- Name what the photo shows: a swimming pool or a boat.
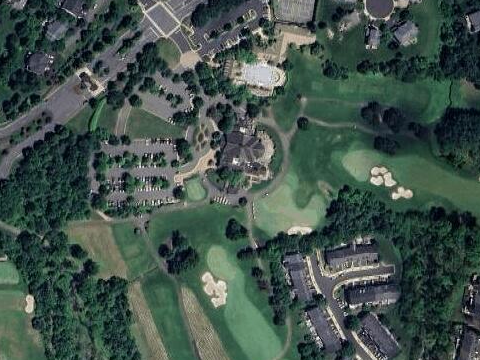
swimming pool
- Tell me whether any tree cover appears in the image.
Yes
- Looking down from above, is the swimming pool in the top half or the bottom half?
top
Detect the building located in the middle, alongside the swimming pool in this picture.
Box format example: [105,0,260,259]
[221,122,274,180]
